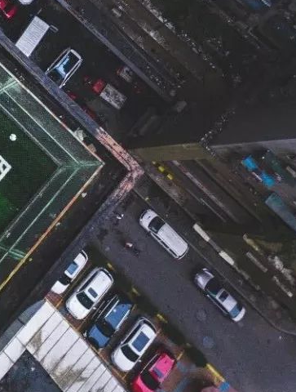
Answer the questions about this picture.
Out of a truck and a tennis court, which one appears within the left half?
truck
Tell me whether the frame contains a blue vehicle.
Yes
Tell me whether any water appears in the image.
No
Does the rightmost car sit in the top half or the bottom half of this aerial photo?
bottom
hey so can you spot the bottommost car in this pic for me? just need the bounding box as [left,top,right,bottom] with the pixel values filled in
[133,346,177,392]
